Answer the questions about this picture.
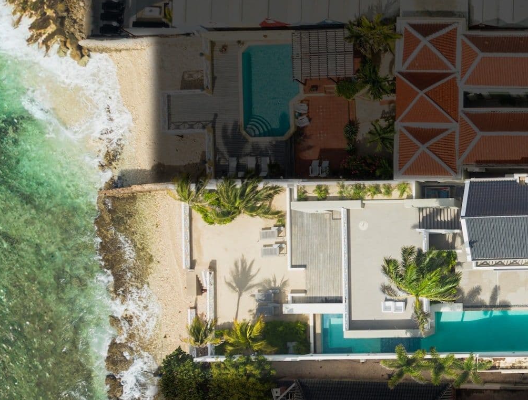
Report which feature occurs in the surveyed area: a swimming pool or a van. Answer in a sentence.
It is a swimming pool that can be seen here.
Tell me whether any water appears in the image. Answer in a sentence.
Yes, there is water in the image.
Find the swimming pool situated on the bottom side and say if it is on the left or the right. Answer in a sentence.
It is on the right.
